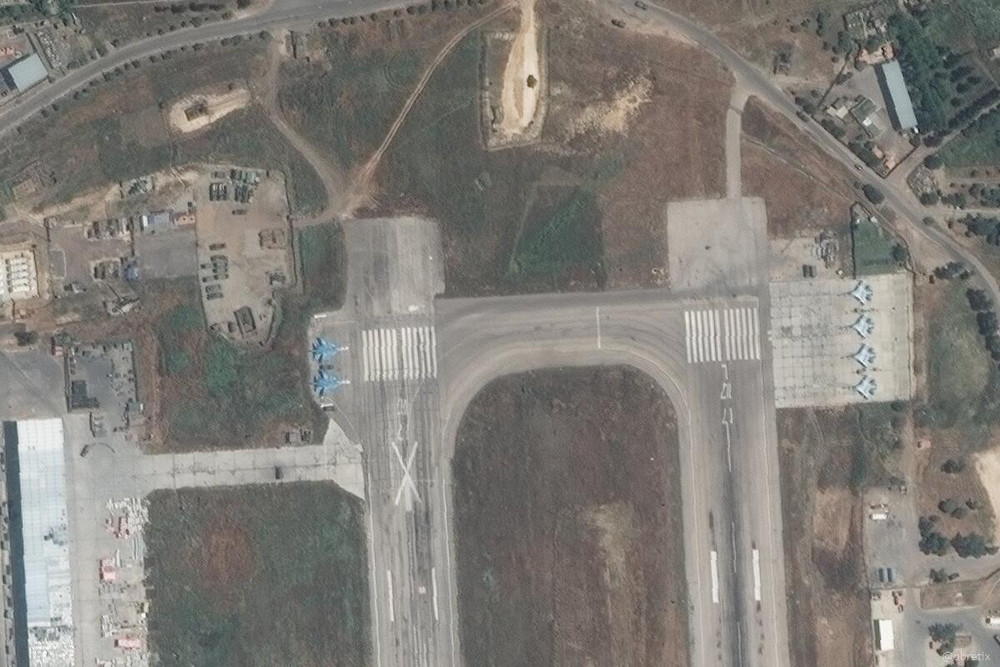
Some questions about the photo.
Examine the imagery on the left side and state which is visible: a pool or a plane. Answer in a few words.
plane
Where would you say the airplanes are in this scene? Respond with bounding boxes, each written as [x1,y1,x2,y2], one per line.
[312,371,350,396]
[311,337,348,362]
[844,376,877,398]
[843,344,876,367]
[841,281,874,305]
[842,315,874,338]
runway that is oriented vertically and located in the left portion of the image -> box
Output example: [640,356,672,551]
[309,217,461,667]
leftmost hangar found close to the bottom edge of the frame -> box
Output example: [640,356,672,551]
[17,418,78,667]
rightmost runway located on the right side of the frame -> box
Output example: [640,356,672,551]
[667,197,789,667]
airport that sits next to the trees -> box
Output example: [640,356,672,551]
[62,197,913,667]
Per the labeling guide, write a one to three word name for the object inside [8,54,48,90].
building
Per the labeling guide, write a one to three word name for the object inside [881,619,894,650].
shed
